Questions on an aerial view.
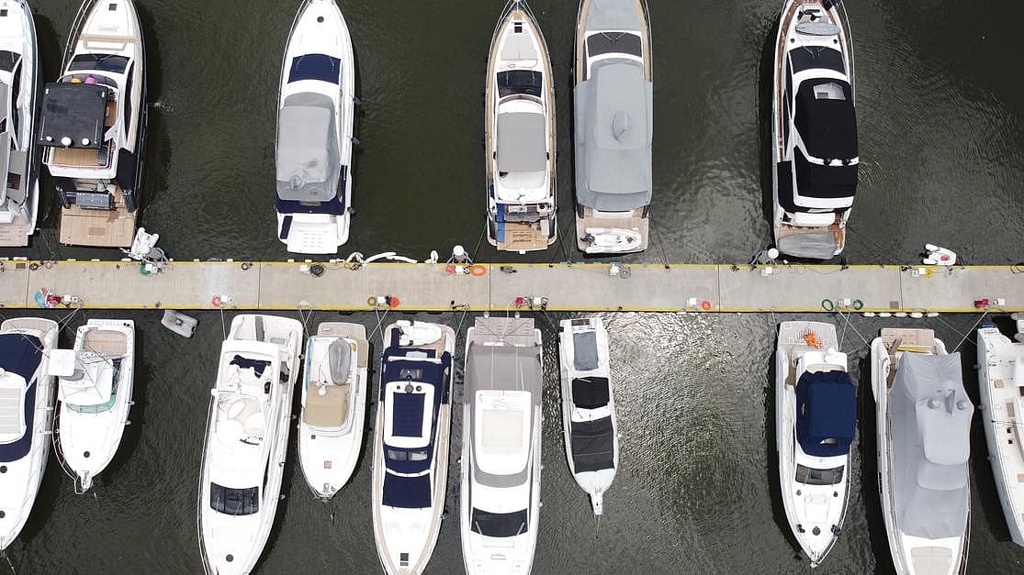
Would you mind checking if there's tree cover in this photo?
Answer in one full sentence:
No, there's no tree cover in this view.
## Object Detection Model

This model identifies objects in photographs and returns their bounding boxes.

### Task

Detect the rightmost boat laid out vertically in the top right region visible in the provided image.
[767,0,861,252]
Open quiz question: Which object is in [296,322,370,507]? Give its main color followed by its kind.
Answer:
white boat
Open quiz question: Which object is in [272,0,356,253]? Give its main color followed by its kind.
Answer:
white boat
